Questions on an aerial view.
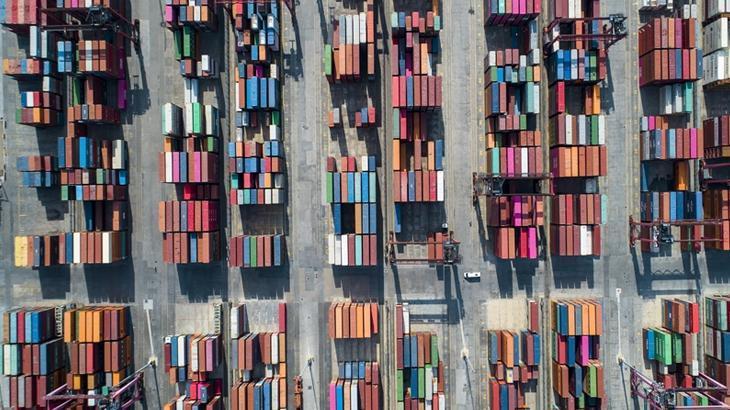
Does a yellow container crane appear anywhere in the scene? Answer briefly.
No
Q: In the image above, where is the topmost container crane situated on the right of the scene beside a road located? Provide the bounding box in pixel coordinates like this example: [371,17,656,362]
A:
[543,14,634,58]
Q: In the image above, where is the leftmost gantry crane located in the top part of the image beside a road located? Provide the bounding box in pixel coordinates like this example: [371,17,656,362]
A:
[35,5,140,50]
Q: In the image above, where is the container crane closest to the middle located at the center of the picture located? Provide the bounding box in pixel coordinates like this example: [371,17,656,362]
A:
[385,232,465,264]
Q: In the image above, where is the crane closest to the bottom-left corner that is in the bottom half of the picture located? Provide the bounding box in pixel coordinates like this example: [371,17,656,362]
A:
[41,372,146,410]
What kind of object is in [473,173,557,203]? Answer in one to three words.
container crane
